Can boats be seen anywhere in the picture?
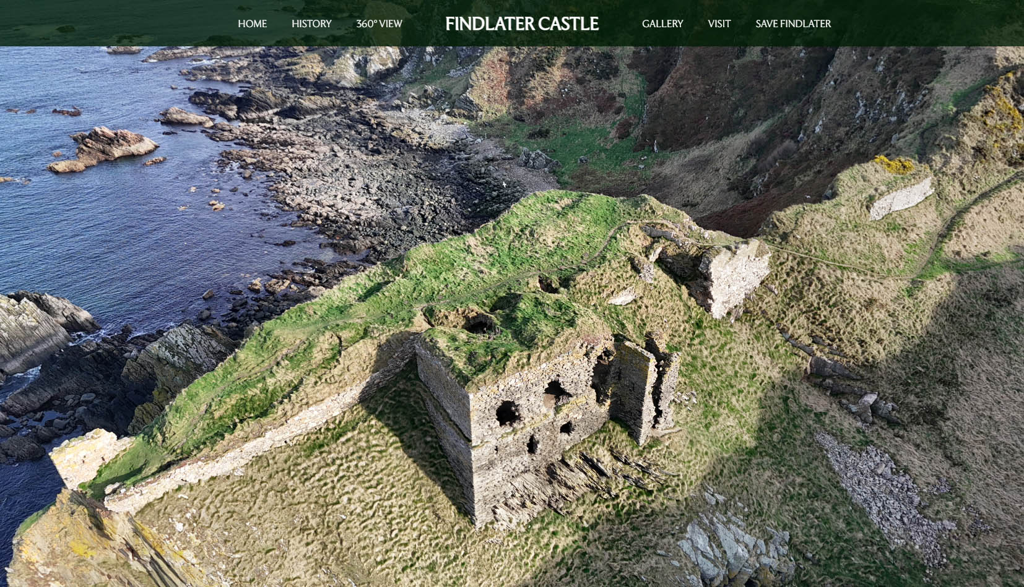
No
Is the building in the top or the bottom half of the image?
bottom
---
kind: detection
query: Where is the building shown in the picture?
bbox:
[414,260,664,538]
